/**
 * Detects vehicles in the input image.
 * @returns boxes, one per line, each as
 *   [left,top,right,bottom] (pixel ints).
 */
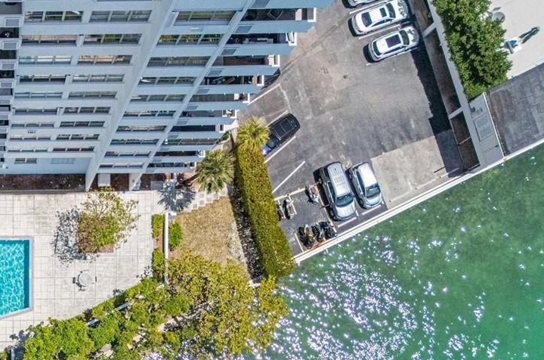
[317,162,358,221]
[301,223,315,243]
[350,0,407,35]
[312,220,326,240]
[322,217,339,237]
[365,25,420,64]
[287,196,299,217]
[309,181,323,203]
[347,158,382,211]
[263,110,306,161]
